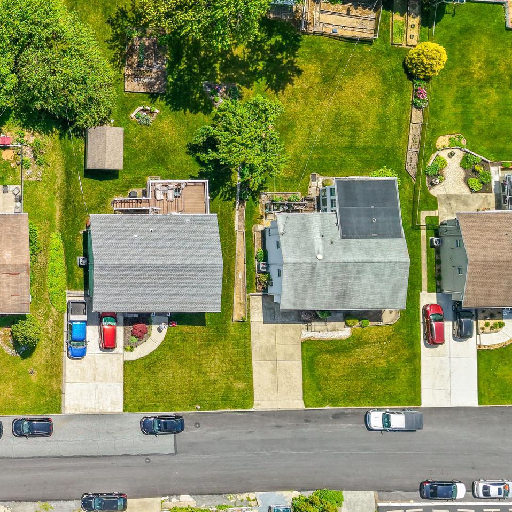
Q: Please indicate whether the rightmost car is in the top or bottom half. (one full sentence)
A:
The rightmost car sits in the bottom half of the picture.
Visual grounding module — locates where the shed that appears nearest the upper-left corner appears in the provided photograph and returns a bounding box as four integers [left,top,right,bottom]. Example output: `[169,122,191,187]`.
[84,125,123,170]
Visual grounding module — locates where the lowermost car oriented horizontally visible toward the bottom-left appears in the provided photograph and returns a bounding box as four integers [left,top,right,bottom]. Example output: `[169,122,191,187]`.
[80,491,127,512]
